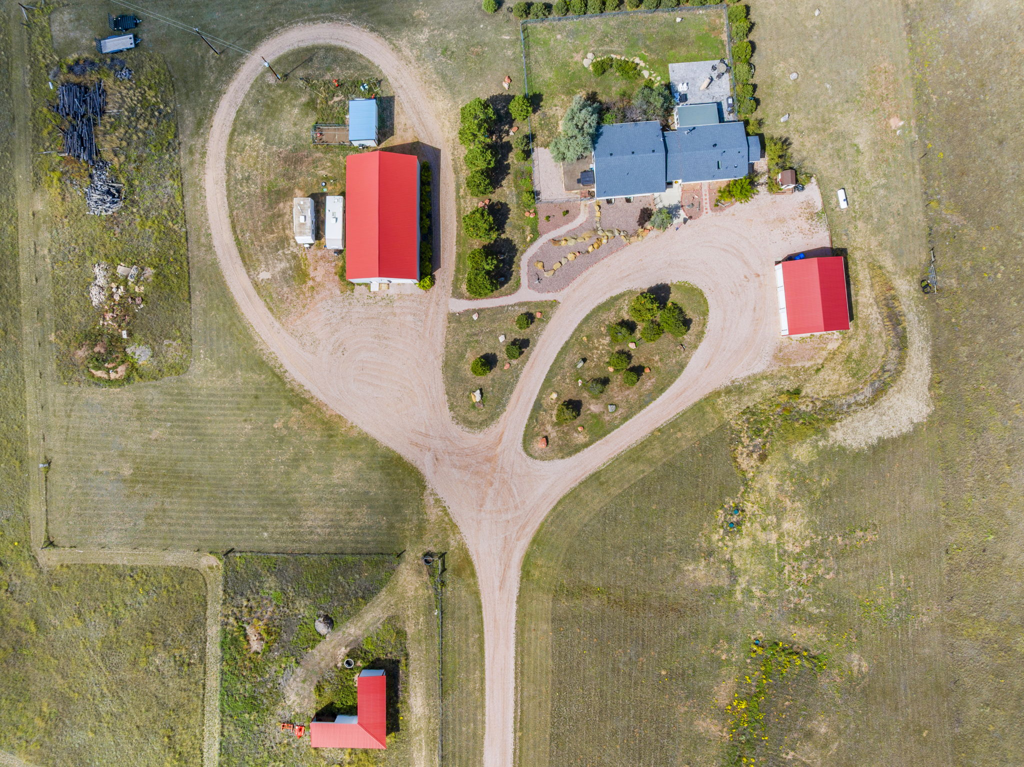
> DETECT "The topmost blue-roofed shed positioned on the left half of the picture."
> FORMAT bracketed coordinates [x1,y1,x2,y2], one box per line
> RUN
[349,100,379,146]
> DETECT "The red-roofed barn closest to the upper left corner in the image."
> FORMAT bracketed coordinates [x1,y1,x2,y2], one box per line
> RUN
[346,150,419,284]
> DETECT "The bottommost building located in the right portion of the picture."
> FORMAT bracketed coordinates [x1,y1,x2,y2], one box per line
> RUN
[775,256,850,335]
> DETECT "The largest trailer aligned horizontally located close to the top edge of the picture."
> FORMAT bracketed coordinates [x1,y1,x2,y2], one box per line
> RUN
[92,32,145,55]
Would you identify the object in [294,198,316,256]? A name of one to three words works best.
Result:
vehicle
